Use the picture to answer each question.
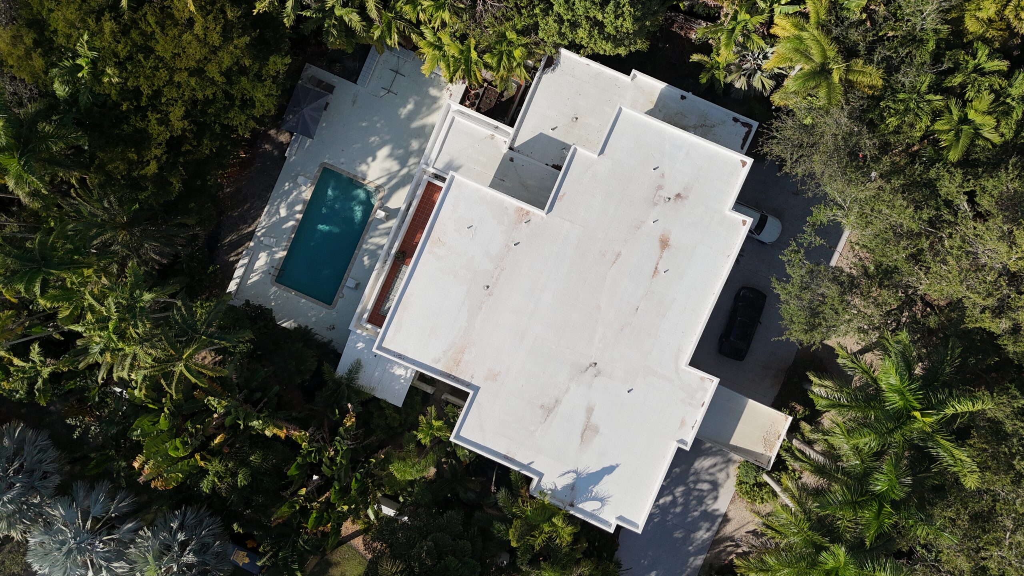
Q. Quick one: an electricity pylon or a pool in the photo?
pool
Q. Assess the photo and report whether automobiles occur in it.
Yes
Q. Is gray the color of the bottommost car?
No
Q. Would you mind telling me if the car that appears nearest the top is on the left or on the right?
right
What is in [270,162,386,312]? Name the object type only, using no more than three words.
swimming pool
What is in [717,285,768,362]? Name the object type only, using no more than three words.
car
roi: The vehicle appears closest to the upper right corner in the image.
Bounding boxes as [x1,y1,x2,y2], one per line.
[732,199,781,244]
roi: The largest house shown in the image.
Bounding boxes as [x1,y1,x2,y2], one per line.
[348,45,758,533]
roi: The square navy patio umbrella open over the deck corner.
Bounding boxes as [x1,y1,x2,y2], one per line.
[279,85,331,142]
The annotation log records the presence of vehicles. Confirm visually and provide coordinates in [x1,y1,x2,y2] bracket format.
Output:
[717,285,768,362]
[732,199,781,244]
